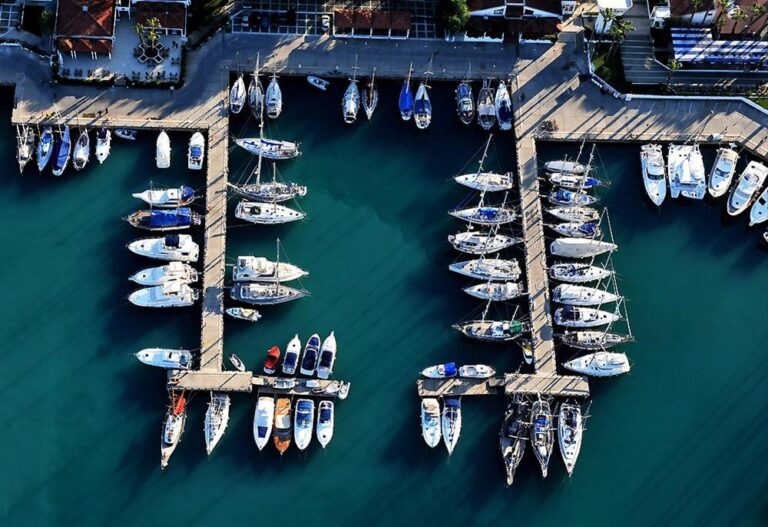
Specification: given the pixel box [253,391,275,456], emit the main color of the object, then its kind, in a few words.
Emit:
white boat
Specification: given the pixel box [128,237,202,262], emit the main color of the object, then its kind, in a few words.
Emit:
white boat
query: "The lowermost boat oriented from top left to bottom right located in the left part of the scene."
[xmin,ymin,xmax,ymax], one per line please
[228,353,245,370]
